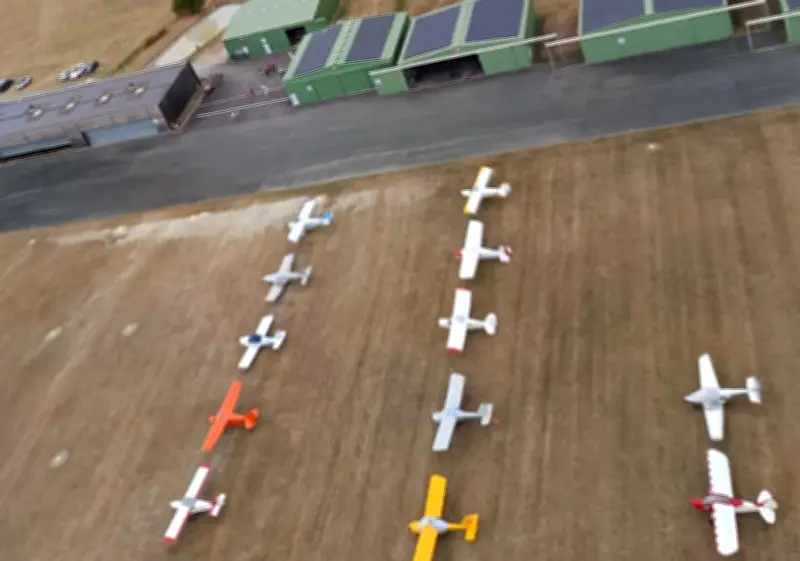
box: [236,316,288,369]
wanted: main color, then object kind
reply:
white airplane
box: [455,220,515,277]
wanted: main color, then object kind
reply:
white airplane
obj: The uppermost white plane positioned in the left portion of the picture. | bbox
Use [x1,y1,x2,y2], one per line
[286,195,334,238]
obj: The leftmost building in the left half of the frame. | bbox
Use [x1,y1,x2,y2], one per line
[0,59,209,163]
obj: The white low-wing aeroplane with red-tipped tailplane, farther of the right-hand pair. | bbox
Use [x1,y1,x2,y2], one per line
[683,358,763,442]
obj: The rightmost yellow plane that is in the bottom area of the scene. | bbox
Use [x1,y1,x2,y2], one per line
[409,474,482,561]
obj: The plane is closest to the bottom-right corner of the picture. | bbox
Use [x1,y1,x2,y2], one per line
[687,454,780,558]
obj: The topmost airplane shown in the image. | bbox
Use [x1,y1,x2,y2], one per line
[460,164,512,212]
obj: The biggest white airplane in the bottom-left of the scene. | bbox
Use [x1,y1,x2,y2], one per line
[166,466,230,548]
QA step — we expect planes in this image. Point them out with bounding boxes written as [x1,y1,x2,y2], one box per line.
[460,164,512,212]
[437,286,502,352]
[455,220,515,277]
[200,379,262,452]
[236,316,288,369]
[430,374,495,451]
[683,358,763,442]
[687,454,780,558]
[286,195,334,238]
[166,466,230,548]
[262,255,316,301]
[409,474,482,561]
